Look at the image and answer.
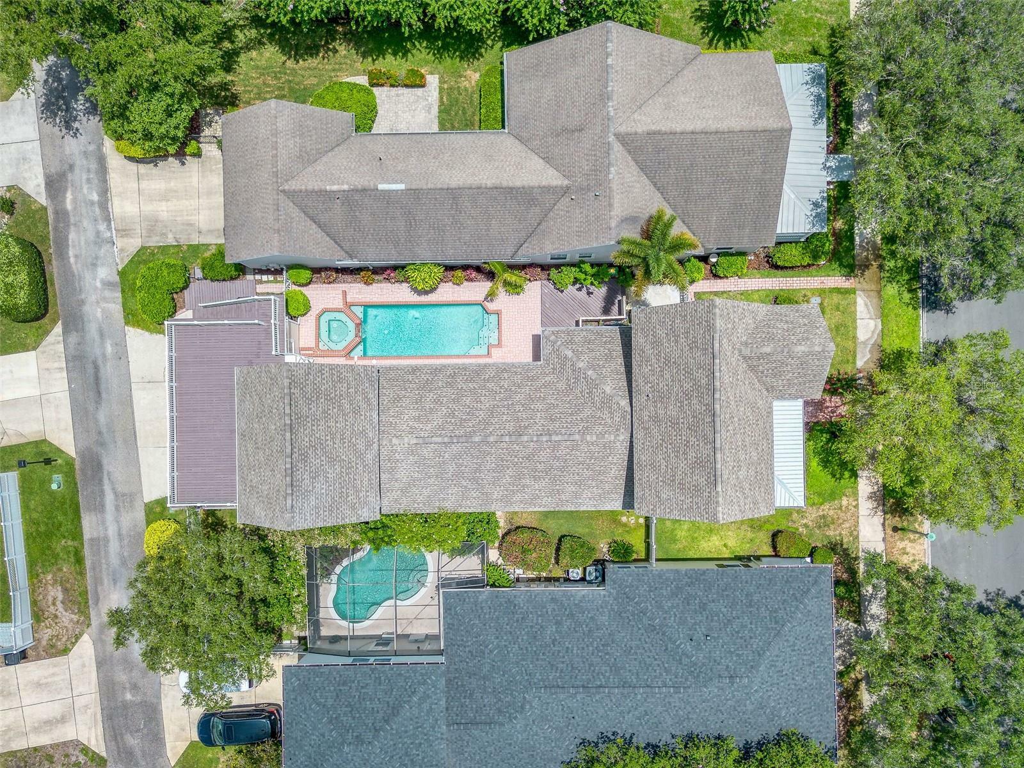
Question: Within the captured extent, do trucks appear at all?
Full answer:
No, there's no truck here.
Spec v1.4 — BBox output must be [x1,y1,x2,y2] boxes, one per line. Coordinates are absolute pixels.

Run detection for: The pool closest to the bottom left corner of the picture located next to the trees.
[328,544,433,628]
